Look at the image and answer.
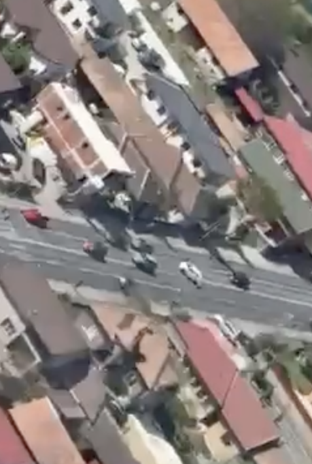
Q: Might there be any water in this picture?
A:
No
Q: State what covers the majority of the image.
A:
buildings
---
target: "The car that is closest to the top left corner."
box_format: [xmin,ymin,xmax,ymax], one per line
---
[0,155,18,170]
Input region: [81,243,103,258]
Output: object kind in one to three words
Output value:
car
